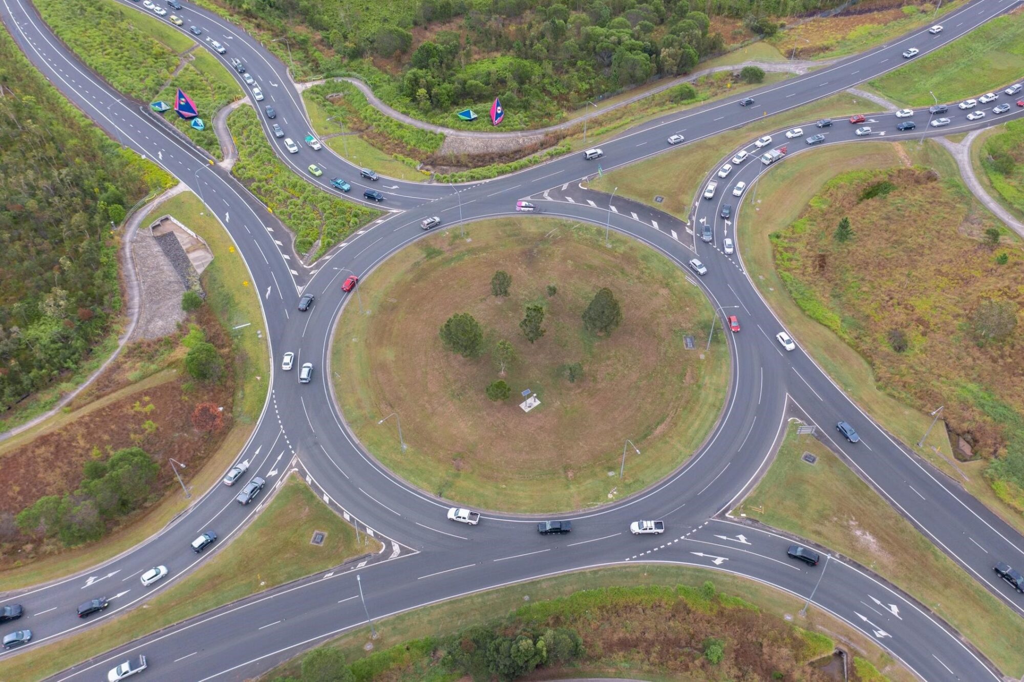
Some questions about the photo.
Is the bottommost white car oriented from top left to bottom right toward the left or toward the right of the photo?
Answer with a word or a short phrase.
right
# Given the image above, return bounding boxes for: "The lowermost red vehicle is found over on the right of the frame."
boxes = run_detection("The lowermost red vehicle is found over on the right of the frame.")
[728,316,740,333]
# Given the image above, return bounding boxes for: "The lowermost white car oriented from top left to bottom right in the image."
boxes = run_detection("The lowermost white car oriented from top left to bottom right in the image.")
[775,331,795,351]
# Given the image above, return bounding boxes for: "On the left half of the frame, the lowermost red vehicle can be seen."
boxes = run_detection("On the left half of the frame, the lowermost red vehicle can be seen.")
[340,276,359,293]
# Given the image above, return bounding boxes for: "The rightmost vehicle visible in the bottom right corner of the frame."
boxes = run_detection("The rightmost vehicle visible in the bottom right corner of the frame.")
[991,562,1024,595]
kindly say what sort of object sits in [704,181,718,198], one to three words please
vehicle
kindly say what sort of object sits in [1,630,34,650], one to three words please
car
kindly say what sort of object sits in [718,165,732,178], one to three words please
vehicle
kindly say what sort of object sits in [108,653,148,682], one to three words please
truck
